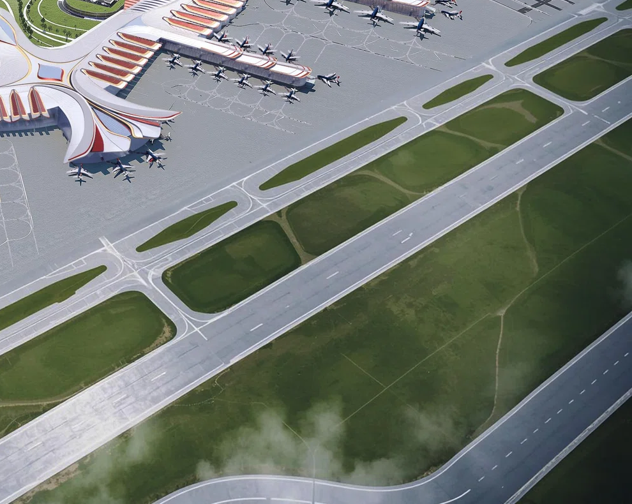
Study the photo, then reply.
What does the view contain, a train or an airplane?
airplane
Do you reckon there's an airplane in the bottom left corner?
No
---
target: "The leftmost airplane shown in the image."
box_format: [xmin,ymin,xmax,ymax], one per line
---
[68,164,92,180]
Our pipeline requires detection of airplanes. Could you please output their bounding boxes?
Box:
[209,67,230,79]
[259,40,276,54]
[233,74,251,86]
[357,5,394,22]
[317,73,341,84]
[146,151,166,164]
[114,158,135,172]
[254,80,275,92]
[162,116,186,129]
[314,0,350,10]
[401,17,440,34]
[218,28,233,42]
[184,61,206,72]
[281,48,297,60]
[68,164,92,180]
[236,34,256,48]
[278,89,300,101]
[163,54,183,65]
